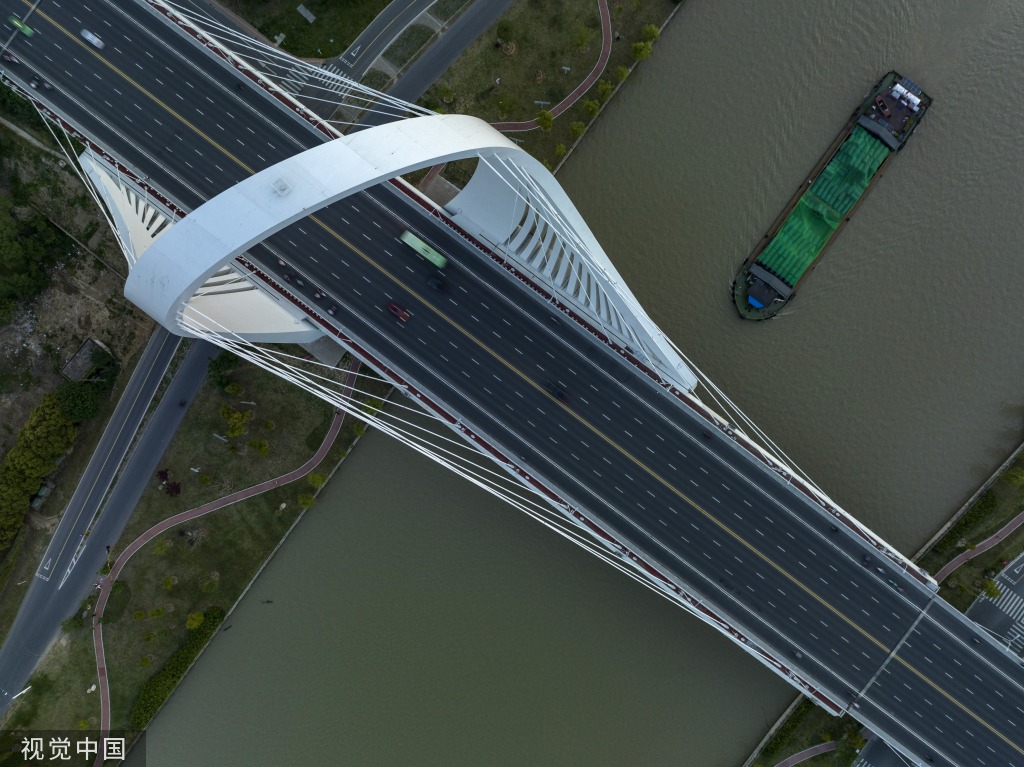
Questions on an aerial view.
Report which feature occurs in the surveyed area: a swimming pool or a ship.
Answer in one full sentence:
I can see a ship in this picture.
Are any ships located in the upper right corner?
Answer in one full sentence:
Yes, there is a ship in the upper right corner.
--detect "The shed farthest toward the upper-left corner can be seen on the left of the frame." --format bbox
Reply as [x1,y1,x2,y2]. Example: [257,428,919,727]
[59,337,119,388]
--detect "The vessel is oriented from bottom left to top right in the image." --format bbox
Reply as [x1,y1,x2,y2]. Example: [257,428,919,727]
[730,71,929,323]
